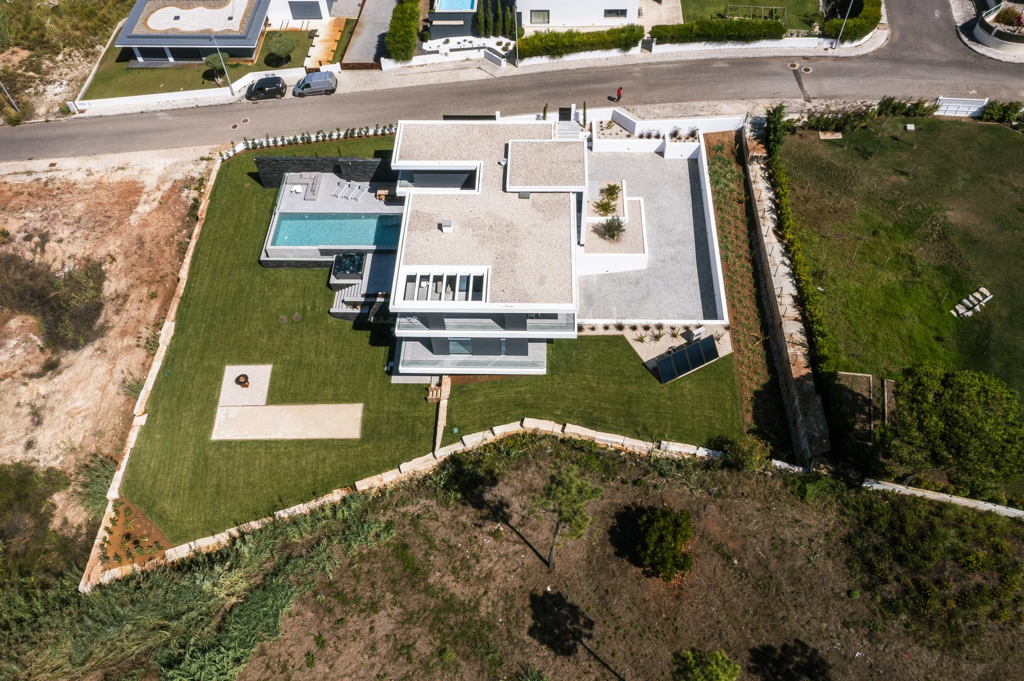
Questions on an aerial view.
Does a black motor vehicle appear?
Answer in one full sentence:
Yes, you can see a black motor vehicle in this photo.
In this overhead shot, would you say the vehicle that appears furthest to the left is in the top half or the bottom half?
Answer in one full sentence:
Seen from above, the vehicle that appears furthest to the left lies in the top half of the view.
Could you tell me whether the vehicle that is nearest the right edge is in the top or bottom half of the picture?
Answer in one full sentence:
The top half of the photo is where the vehicle that is nearest the right edge is.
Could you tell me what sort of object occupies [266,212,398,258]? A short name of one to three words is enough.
swimming pool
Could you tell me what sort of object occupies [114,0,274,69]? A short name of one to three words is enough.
house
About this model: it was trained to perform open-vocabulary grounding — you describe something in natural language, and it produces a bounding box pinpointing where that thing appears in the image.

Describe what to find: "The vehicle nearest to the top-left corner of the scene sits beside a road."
[245,75,287,99]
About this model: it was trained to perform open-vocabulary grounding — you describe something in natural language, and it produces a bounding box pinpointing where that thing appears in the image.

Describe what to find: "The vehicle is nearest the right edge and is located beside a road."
[291,70,338,95]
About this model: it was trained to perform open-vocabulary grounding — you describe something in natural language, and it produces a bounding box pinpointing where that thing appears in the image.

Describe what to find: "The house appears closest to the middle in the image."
[389,120,588,383]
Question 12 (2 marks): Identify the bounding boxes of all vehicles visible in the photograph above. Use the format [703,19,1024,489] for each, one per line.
[291,70,338,95]
[245,75,287,99]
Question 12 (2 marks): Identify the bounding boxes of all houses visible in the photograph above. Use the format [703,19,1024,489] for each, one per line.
[521,0,639,25]
[389,120,588,383]
[114,0,274,69]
